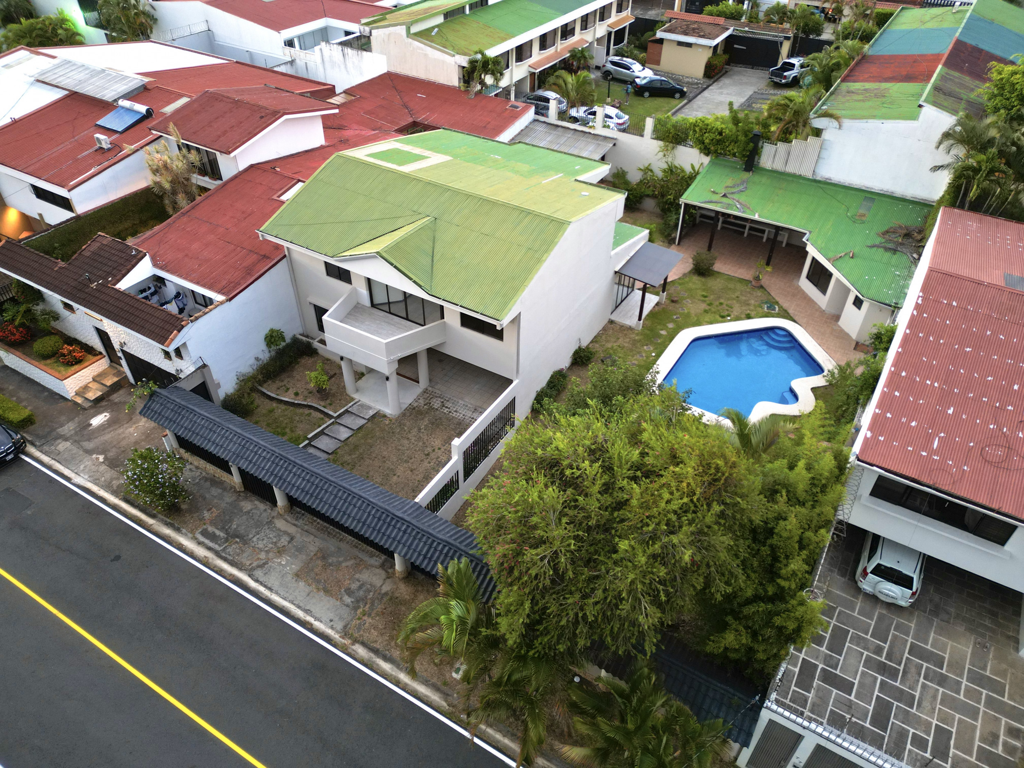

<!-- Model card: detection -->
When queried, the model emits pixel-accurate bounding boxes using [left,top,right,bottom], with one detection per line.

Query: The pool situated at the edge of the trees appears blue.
[646,317,839,429]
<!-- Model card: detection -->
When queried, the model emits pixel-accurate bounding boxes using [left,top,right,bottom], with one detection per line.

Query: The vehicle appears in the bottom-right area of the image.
[861,534,935,614]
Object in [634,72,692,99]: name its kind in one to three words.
car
